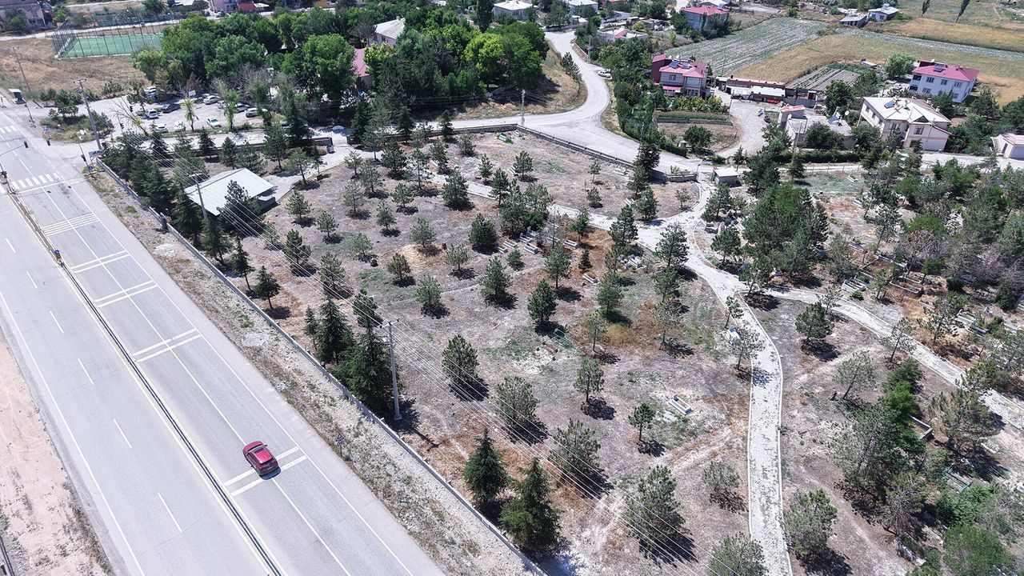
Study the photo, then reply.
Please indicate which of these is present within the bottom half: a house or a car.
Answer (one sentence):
You can see a car within the bottom half.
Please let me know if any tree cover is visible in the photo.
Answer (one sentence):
Yes, tree cover shows up in the scene.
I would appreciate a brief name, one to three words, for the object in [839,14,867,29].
shed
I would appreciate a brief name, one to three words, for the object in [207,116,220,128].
vehicle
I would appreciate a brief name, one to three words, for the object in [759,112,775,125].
vehicle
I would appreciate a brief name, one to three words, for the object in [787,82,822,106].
building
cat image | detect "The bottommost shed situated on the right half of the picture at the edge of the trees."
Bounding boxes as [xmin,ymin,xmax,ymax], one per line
[714,163,741,186]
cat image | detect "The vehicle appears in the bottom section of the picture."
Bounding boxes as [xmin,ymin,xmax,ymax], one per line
[242,443,280,483]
